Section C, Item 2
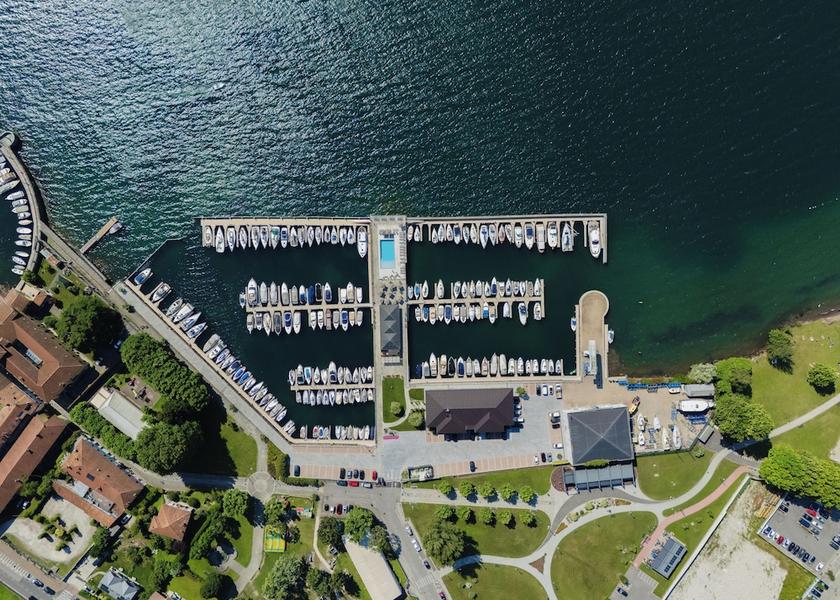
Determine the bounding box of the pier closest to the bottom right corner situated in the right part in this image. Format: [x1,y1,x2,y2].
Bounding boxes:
[575,290,609,381]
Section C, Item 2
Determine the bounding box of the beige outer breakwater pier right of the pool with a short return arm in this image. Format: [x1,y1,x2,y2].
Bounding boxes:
[407,213,608,264]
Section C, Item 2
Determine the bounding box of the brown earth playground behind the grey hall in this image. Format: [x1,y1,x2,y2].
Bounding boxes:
[118,374,160,407]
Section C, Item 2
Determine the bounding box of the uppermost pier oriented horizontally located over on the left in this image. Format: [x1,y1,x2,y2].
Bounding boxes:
[199,216,371,246]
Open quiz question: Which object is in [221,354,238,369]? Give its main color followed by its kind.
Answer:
white boat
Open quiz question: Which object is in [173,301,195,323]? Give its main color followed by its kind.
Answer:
white boat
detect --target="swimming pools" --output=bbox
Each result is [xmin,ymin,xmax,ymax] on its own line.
[378,237,395,269]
